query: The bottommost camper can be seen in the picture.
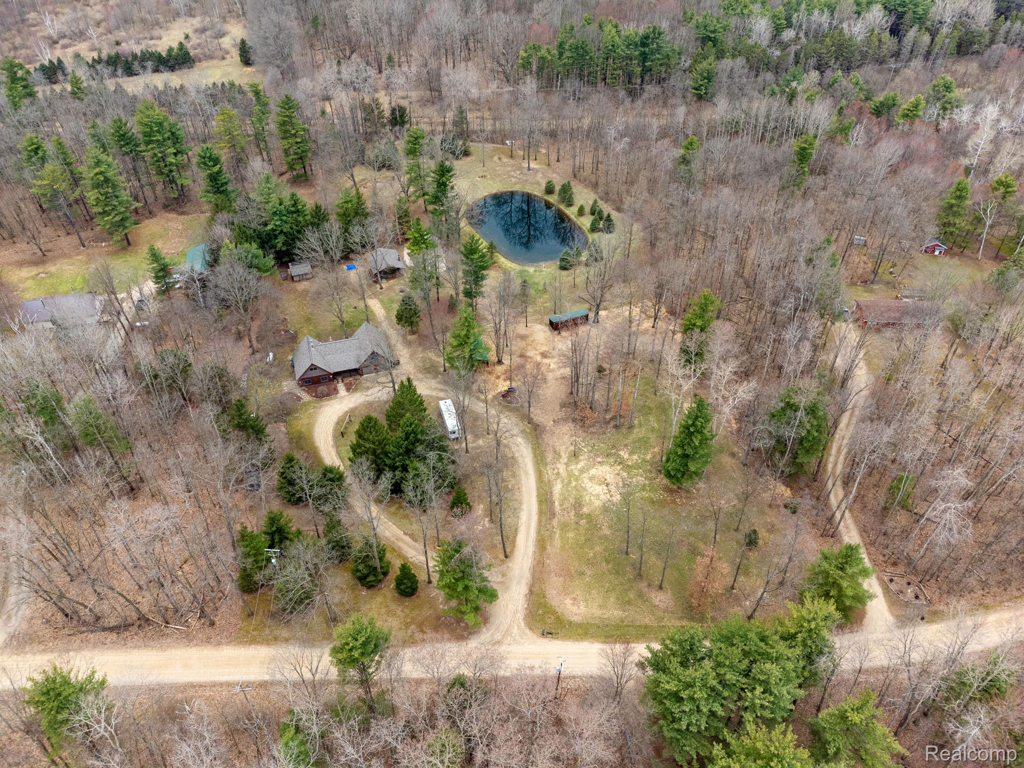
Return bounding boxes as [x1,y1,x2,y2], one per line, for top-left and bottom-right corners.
[439,400,460,442]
